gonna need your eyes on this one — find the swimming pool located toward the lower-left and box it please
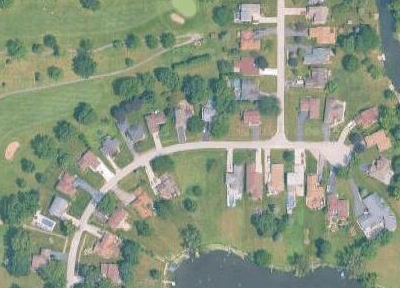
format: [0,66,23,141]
[32,212,58,231]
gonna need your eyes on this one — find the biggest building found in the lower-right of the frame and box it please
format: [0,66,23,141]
[353,190,398,240]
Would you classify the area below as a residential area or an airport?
residential area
